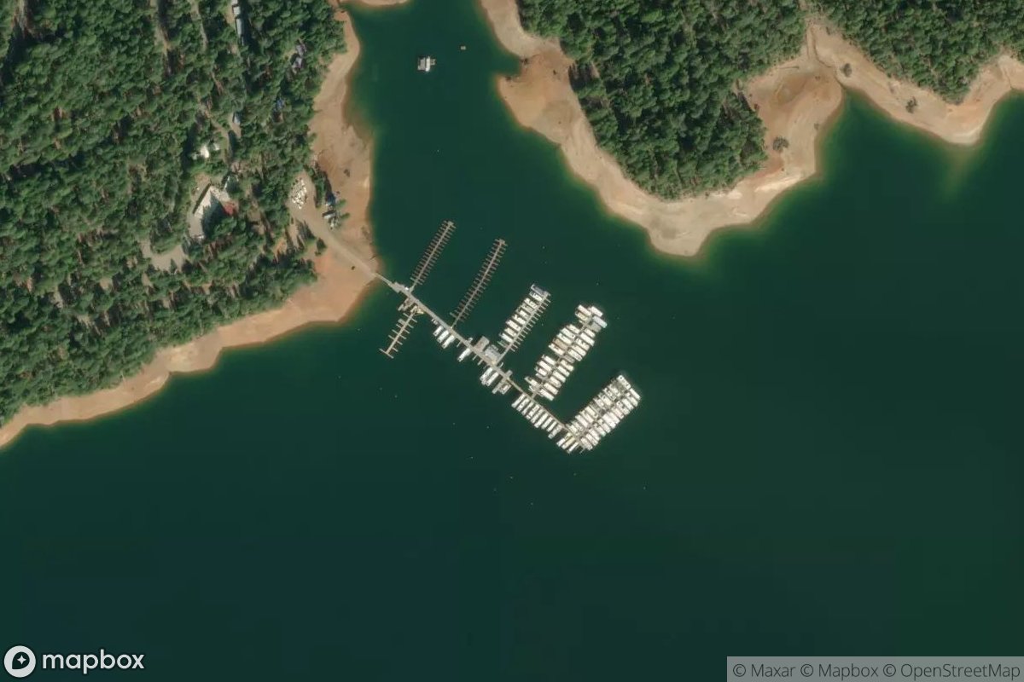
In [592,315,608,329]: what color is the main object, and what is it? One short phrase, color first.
white boat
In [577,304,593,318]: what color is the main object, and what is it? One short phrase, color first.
white boat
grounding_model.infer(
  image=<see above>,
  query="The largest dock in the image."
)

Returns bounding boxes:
[388,282,585,453]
